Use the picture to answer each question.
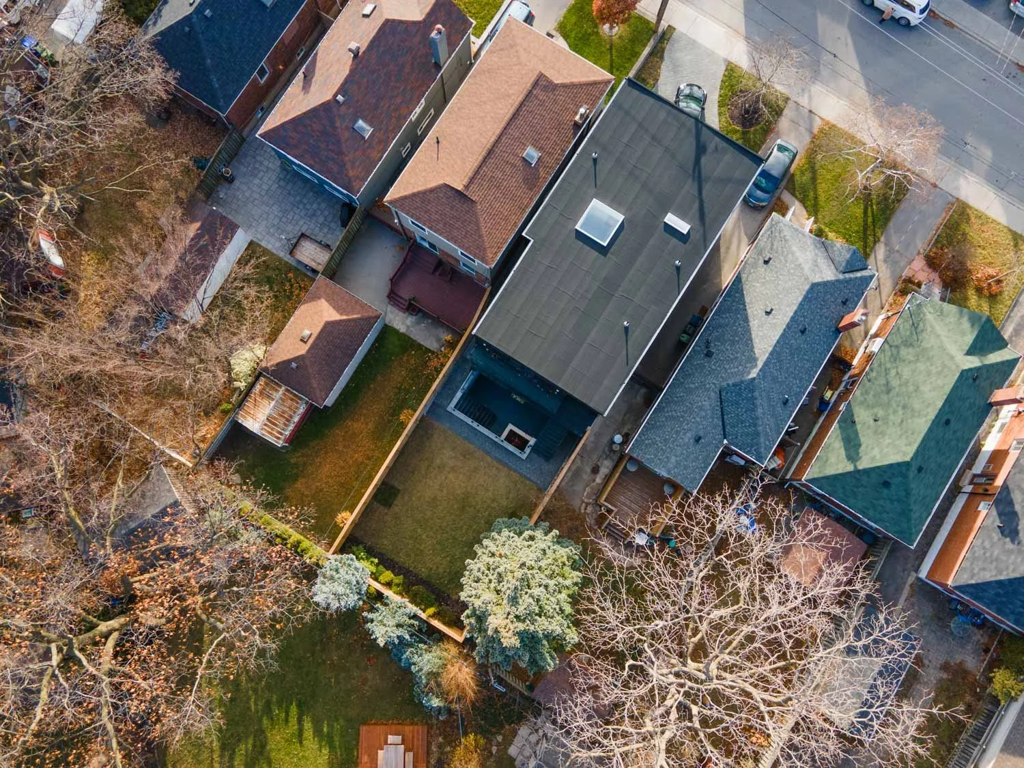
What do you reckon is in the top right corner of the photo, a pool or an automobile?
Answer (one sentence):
There is an automobile in the top right corner of the photo.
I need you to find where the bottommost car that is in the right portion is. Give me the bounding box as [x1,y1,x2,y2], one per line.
[740,136,803,215]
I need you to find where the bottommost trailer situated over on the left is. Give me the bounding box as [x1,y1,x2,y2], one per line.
[281,234,333,273]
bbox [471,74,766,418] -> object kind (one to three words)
house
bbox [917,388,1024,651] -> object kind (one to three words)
house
